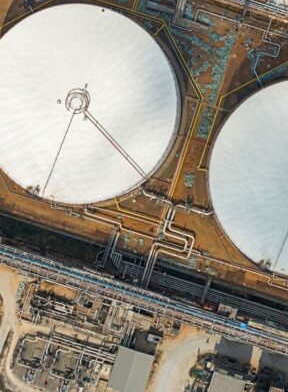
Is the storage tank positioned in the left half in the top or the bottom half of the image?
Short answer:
top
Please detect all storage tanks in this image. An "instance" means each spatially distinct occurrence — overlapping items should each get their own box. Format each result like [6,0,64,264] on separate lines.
[207,78,288,283]
[0,1,191,208]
